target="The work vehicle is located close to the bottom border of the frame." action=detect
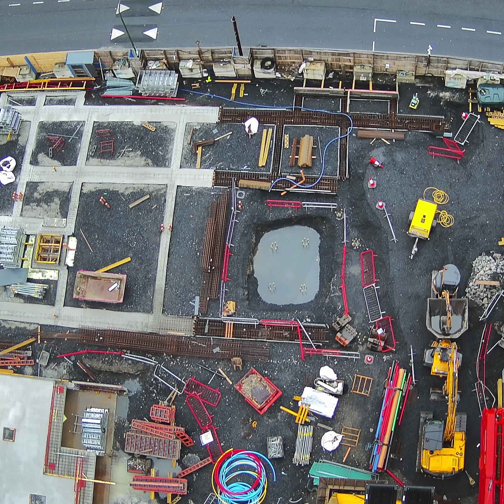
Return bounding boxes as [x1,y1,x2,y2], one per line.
[414,348,470,480]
